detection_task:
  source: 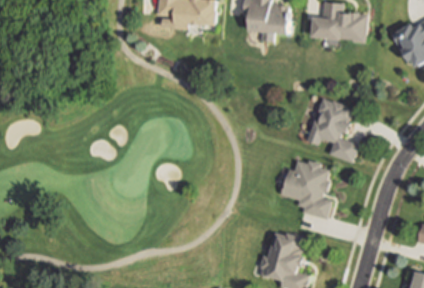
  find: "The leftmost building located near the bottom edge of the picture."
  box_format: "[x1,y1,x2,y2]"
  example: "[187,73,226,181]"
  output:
[260,231,311,288]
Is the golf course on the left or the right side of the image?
left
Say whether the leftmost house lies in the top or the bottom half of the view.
top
